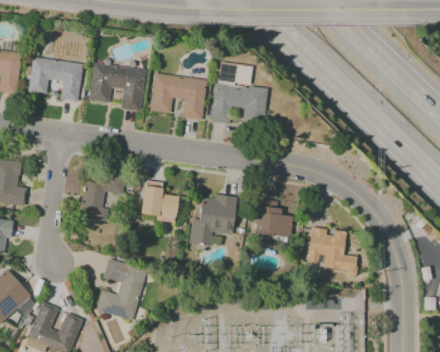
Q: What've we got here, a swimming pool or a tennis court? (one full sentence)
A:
Visible in the photo is a swimming pool.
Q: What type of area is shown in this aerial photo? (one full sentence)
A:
The picture captures a residential area.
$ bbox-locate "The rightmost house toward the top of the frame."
[211,64,270,124]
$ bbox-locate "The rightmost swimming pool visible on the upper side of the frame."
[182,51,207,69]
